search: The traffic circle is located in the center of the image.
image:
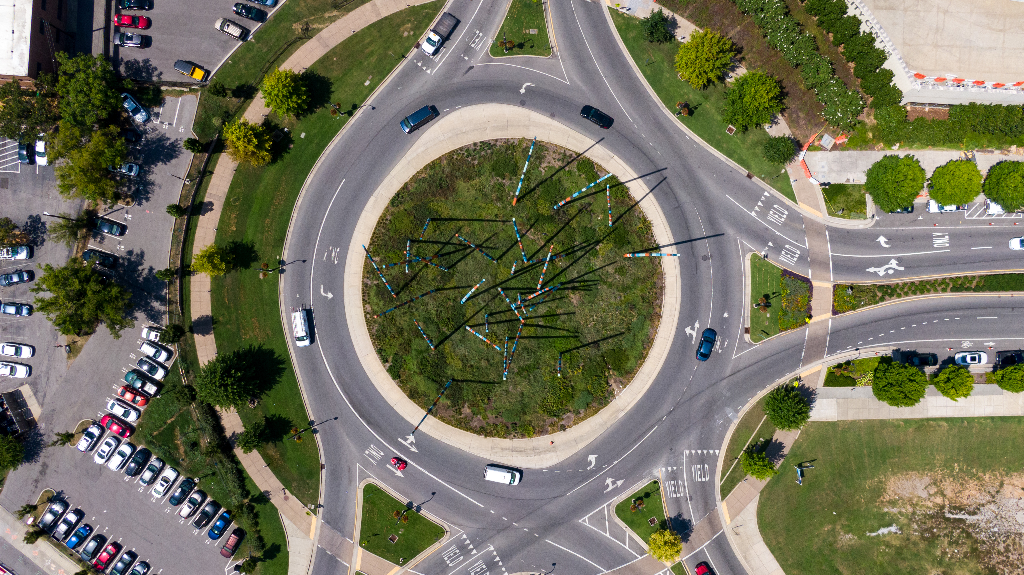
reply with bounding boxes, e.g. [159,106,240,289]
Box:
[344,103,681,469]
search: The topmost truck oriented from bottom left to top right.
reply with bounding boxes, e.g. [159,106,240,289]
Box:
[423,9,460,54]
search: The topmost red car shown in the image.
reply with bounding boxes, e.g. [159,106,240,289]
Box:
[116,14,149,29]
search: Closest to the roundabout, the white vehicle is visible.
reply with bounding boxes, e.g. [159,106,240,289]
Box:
[483,465,521,484]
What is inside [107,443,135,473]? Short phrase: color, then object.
white car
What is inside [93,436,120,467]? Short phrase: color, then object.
white car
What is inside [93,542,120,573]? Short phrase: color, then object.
red car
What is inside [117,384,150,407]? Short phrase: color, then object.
red car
